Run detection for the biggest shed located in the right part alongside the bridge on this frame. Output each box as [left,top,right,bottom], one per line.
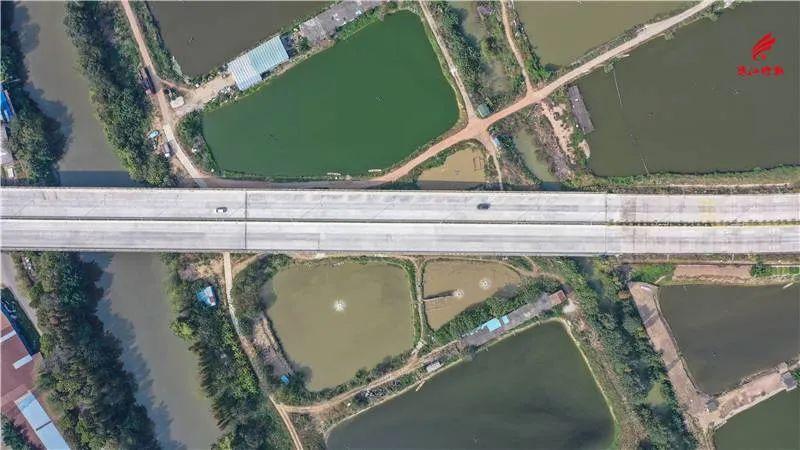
[462,296,555,346]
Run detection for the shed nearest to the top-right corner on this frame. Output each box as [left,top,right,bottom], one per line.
[568,85,593,133]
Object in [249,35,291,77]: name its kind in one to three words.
shed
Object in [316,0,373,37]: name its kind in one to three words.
shed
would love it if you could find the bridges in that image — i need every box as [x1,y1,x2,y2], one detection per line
[0,187,800,255]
